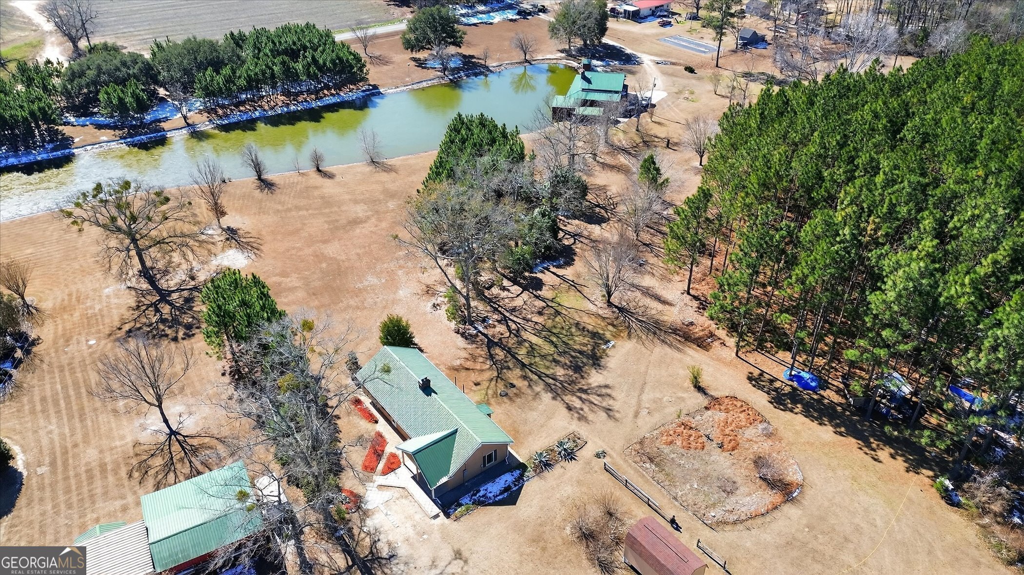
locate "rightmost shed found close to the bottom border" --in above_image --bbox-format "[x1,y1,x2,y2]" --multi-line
[625,518,712,575]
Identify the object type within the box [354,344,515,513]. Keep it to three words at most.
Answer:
house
